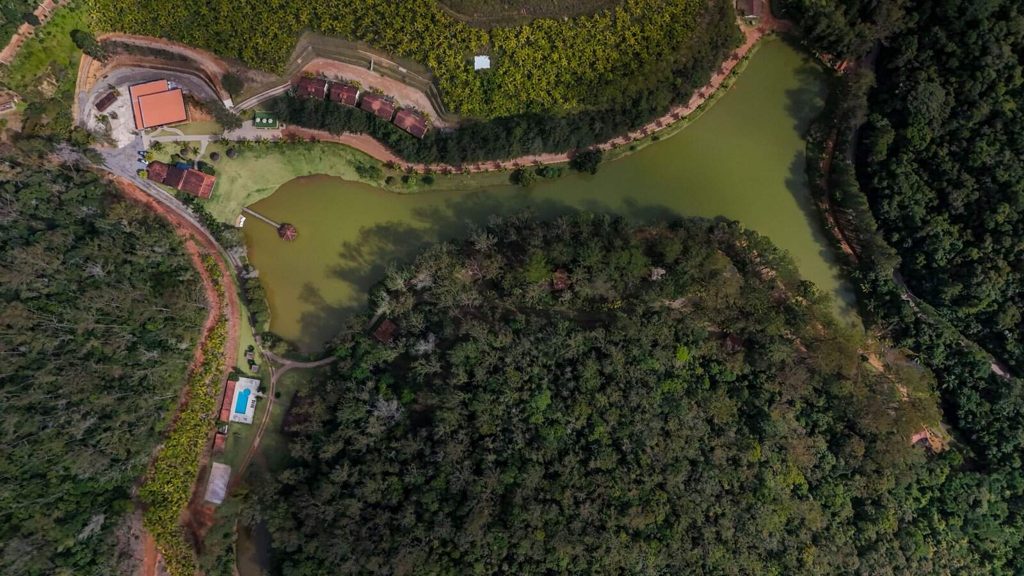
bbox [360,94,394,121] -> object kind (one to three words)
house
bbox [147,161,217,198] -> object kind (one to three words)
building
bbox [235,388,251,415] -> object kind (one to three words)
swimming pool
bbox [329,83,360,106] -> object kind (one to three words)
house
